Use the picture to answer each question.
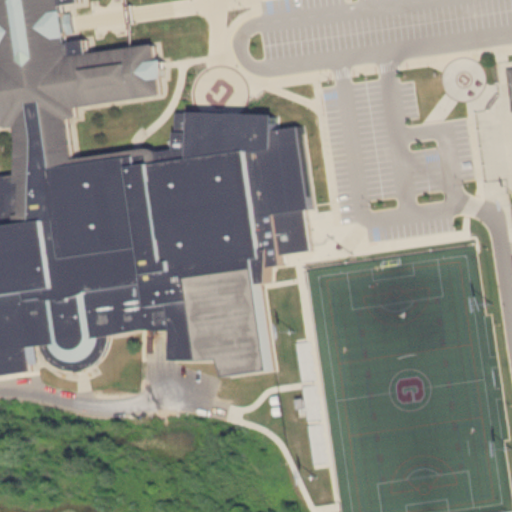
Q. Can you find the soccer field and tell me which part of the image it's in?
bottom right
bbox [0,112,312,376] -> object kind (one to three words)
building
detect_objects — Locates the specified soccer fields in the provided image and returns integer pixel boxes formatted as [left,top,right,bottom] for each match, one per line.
[308,244,512,512]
